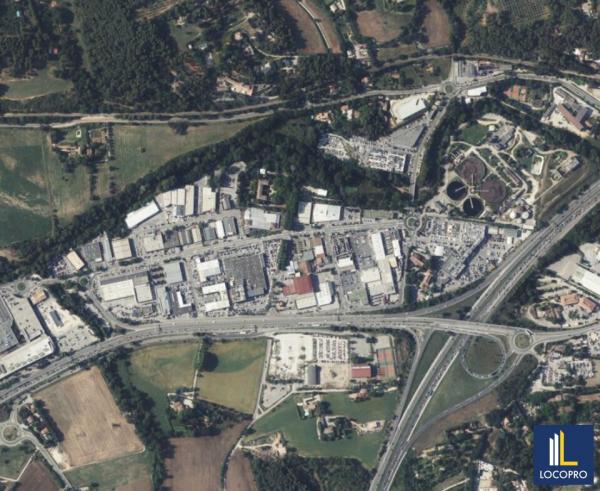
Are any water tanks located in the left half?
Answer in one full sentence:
No, no water tank appears in the left half.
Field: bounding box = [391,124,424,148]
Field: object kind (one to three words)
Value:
building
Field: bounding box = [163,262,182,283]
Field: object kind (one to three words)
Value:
building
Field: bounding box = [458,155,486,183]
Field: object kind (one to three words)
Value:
water tank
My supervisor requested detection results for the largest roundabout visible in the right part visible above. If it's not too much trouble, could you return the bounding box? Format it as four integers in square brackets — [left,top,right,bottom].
[508,326,538,357]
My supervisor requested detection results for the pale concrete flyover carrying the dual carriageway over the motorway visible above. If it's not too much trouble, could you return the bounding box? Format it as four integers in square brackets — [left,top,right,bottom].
[439,319,489,336]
